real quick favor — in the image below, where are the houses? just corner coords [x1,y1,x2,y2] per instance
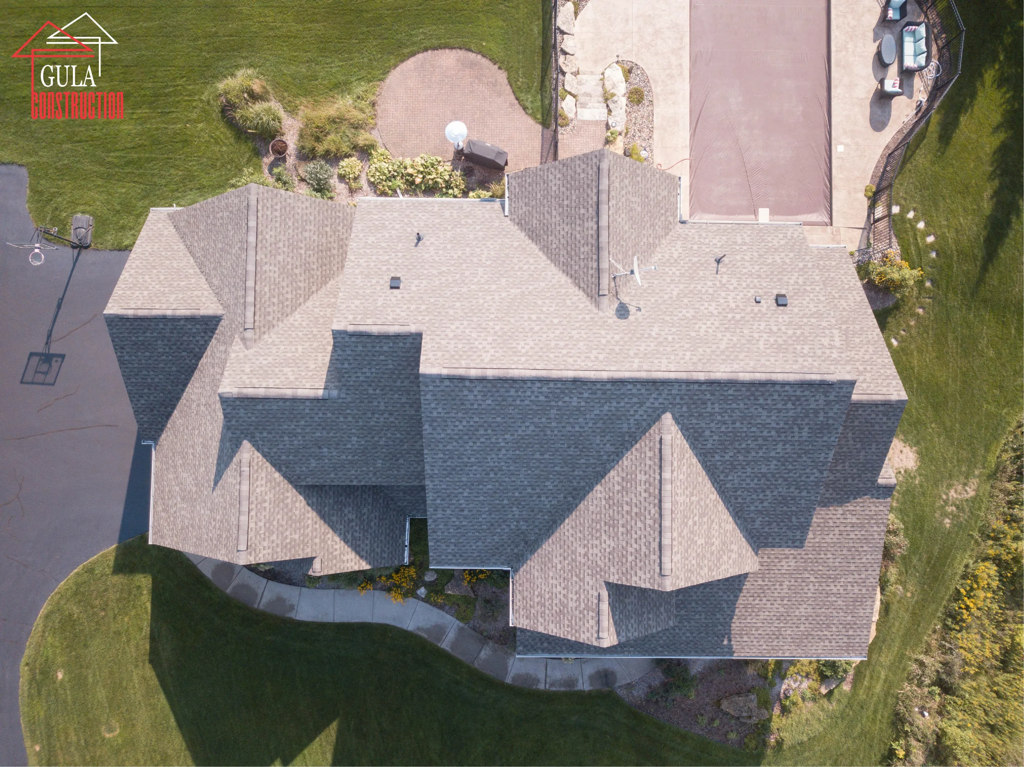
[103,148,908,661]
